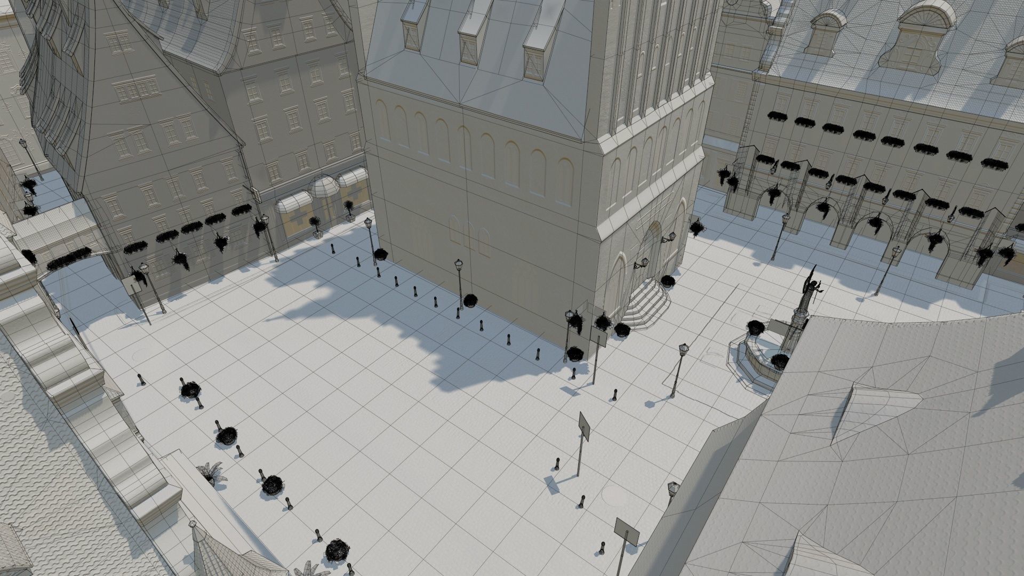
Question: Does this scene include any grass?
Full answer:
No, no grass is visible.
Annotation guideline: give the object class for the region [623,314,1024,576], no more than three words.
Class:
house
